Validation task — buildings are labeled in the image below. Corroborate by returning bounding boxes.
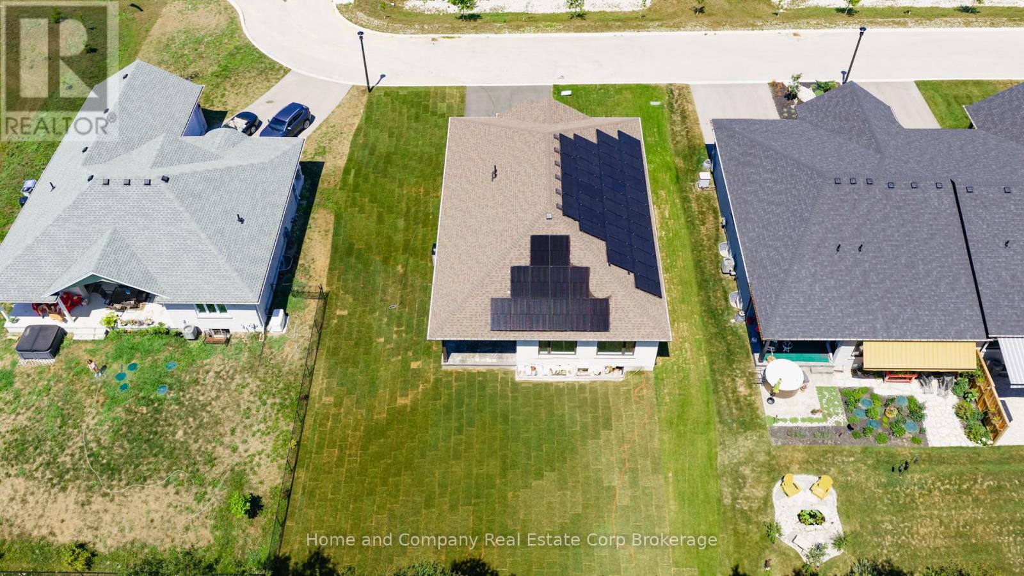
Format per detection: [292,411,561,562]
[425,98,673,370]
[710,80,990,370]
[0,62,307,345]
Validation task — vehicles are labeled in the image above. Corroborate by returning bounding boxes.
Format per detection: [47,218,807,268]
[255,102,313,138]
[230,108,272,137]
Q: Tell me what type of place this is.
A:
residential area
